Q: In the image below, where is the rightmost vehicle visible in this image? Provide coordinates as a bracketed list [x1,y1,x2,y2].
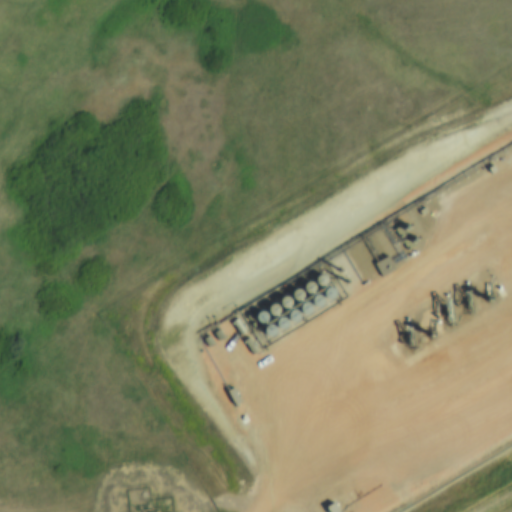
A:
[258,355,275,368]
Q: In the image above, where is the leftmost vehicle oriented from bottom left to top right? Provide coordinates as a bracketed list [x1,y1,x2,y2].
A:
[226,336,240,352]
